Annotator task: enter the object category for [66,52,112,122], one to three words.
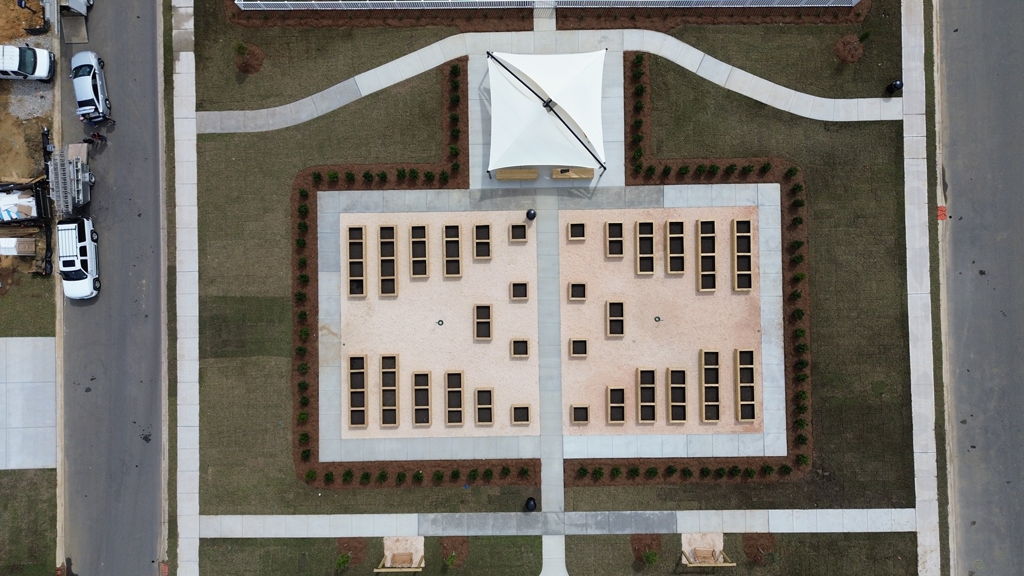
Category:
car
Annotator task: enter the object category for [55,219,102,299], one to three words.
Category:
car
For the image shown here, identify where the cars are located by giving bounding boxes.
[66,52,112,122]
[55,219,102,299]
[0,42,58,84]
